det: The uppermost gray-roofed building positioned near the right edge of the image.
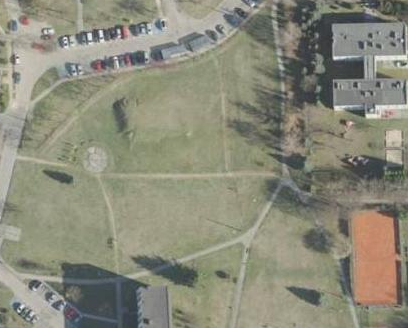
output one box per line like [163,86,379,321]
[327,23,406,62]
